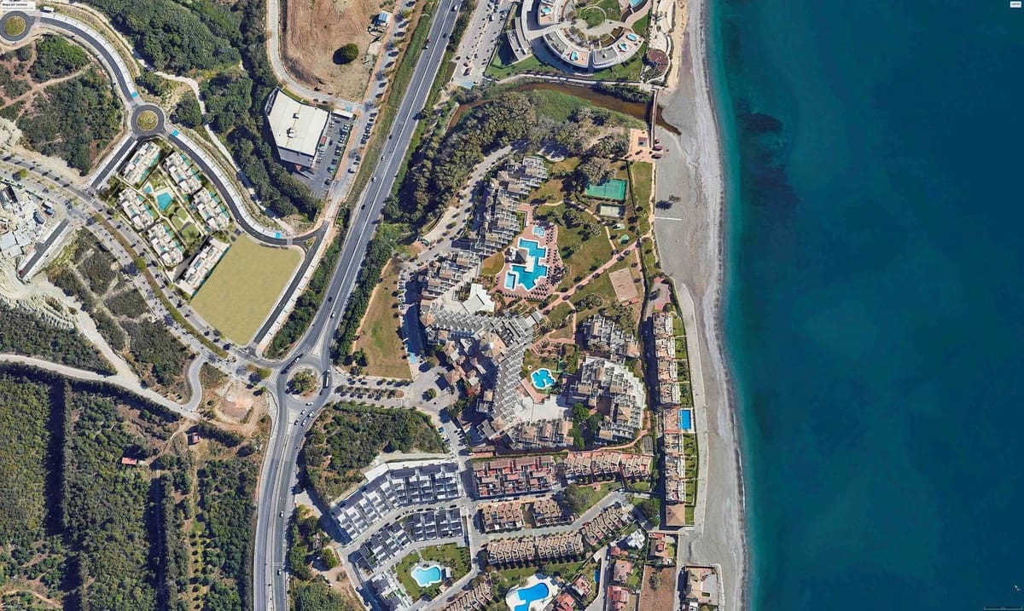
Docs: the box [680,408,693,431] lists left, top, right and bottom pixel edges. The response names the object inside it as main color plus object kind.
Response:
blue swimming pool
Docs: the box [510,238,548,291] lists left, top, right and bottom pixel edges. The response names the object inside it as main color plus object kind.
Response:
blue swimming pool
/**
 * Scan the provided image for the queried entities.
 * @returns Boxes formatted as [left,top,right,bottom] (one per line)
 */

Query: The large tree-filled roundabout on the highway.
[276,356,332,411]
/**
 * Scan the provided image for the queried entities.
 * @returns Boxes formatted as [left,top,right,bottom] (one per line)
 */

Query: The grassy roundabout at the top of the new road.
[0,10,31,41]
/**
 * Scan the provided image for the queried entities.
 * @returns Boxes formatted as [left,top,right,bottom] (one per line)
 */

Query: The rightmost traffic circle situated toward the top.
[131,103,165,137]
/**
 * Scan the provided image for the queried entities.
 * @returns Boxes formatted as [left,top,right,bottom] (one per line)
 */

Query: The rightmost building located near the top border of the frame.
[590,25,640,67]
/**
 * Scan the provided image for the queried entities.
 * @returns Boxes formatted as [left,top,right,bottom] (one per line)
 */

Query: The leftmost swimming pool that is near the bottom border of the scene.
[412,564,442,588]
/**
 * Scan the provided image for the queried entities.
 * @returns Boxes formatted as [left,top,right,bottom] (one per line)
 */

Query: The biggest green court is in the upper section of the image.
[586,175,626,200]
